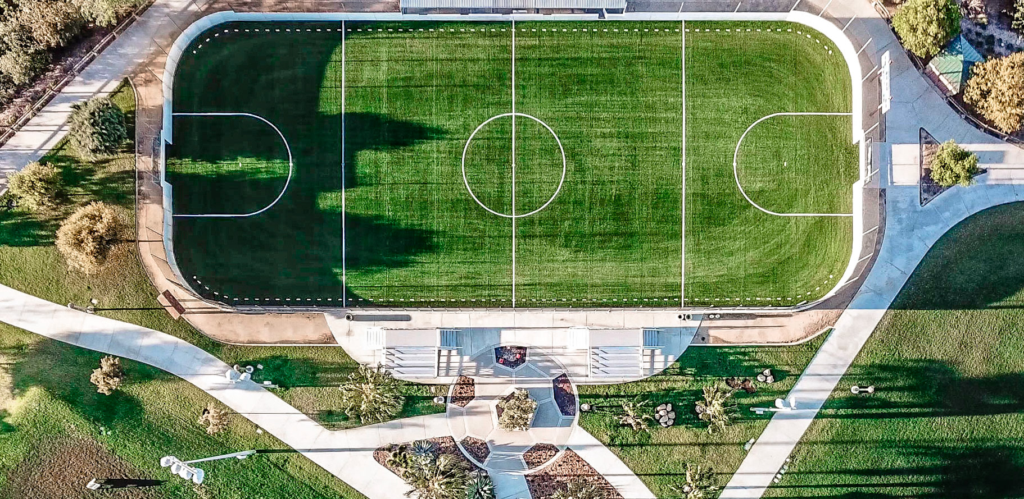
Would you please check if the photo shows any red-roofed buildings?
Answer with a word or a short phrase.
No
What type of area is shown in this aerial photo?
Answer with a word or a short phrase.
sports ground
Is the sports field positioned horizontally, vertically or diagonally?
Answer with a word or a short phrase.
horizontally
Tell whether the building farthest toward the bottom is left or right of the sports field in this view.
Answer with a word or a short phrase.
to its right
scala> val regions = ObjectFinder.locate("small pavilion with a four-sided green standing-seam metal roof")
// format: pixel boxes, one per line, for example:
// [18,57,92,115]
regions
[920,34,984,100]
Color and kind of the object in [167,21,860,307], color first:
green sports field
